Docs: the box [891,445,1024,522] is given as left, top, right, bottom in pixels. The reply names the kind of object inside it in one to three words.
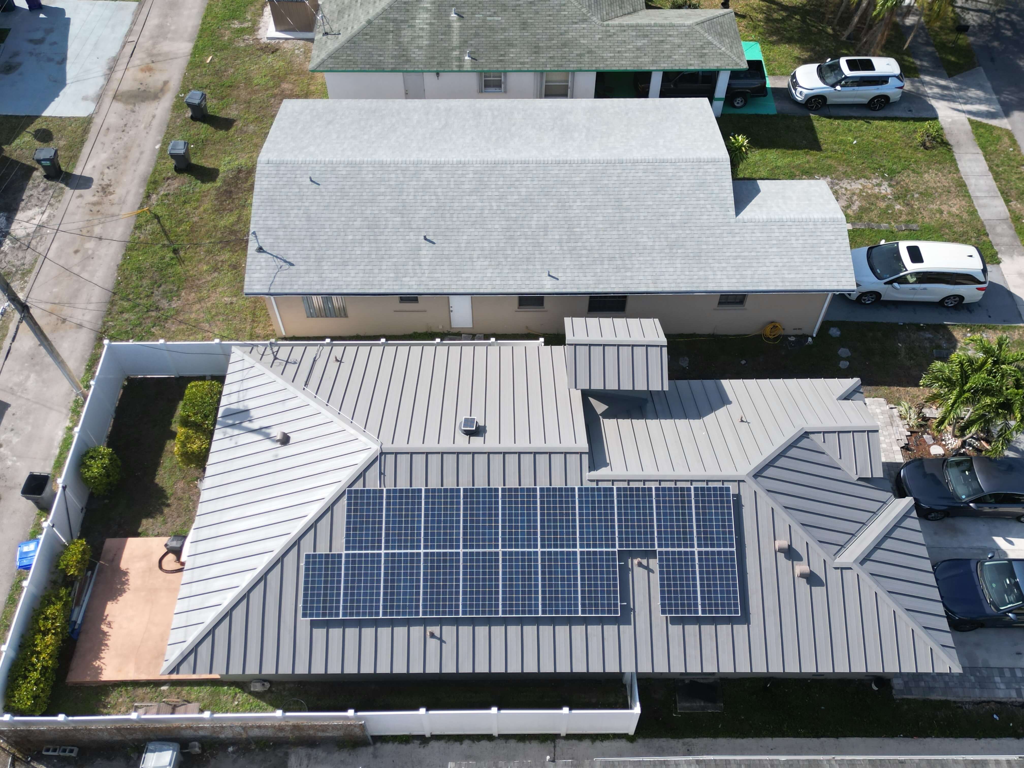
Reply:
car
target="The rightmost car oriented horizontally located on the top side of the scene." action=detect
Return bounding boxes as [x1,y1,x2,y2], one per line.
[844,239,991,308]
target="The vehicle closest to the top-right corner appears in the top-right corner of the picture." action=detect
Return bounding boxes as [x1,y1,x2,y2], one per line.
[782,53,905,109]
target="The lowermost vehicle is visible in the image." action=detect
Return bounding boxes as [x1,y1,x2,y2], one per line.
[932,547,1024,632]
